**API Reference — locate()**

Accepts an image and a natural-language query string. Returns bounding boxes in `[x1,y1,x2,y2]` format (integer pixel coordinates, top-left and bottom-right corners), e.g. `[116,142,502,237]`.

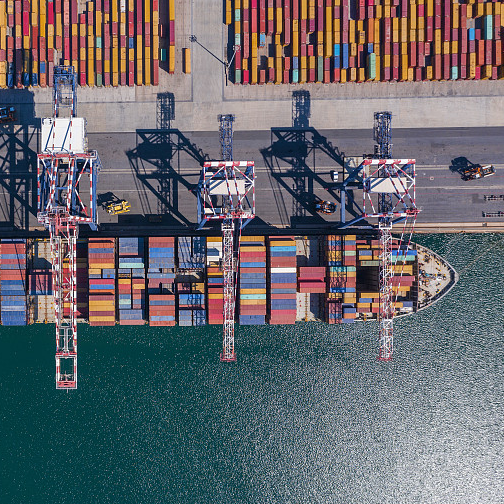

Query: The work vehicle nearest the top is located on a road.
[0,106,18,123]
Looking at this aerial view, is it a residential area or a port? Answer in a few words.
port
